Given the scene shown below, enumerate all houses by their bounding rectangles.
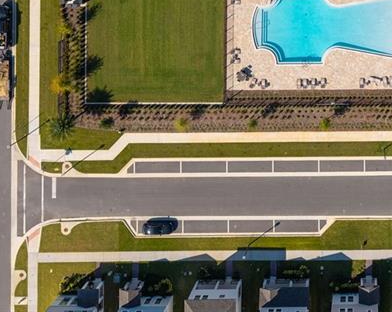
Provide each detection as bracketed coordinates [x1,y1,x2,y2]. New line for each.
[256,278,309,312]
[111,279,169,312]
[38,279,99,312]
[329,278,380,312]
[173,278,241,312]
